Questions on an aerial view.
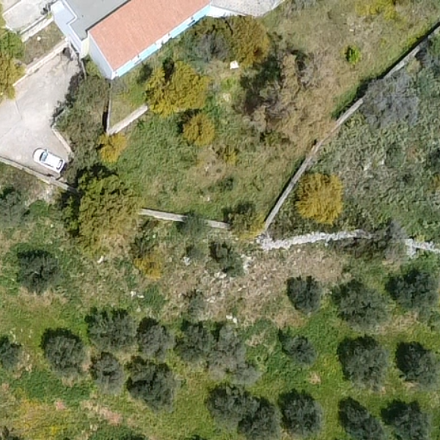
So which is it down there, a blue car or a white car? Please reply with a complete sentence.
The image shows a white car.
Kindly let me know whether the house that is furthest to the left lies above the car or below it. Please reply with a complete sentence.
Looking at the photo, you'll find the house that is furthest to the left above the car.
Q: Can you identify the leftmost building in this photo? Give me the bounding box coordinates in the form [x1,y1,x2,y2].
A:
[51,0,83,60]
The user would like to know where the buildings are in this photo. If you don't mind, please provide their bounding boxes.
[85,0,212,81]
[51,0,83,60]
